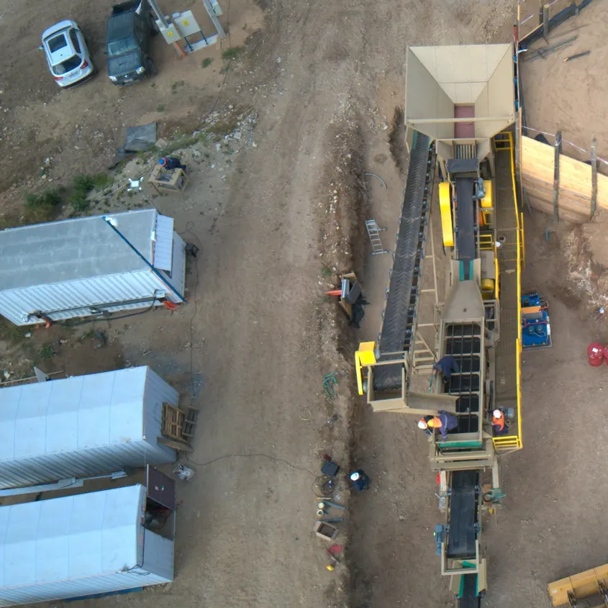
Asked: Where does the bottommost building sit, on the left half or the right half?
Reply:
left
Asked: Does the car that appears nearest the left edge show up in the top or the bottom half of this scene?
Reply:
top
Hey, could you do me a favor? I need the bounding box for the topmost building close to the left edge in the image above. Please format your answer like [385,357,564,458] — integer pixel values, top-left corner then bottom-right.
[0,210,189,330]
